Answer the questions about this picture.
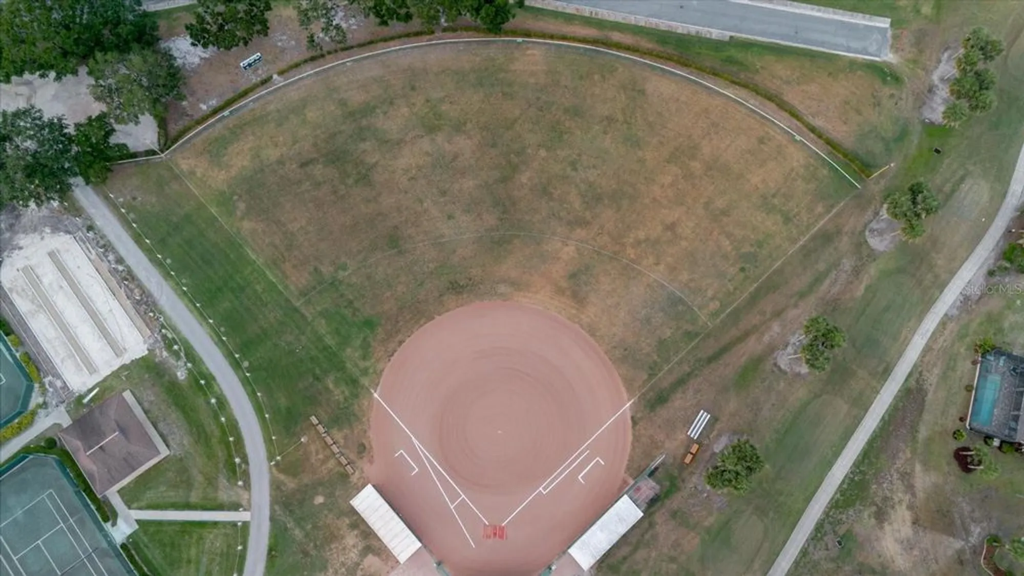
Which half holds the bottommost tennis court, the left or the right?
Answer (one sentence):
The bottommost tennis court is on the left side of the image.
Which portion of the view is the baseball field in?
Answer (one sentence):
The baseball field is in the center part of the image.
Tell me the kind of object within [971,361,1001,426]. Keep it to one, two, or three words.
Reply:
swimming pool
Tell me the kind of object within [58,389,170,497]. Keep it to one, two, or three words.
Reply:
building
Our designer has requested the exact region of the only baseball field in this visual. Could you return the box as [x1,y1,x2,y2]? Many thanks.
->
[164,47,862,576]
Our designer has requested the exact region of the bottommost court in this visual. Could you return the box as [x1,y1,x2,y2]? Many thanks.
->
[0,458,123,576]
